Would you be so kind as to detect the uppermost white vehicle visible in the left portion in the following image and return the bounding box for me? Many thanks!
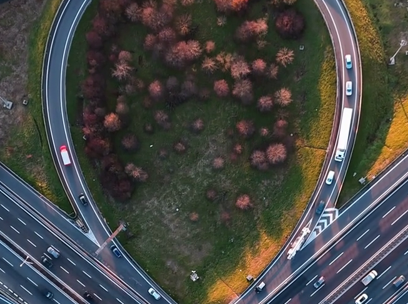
[57,147,70,167]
